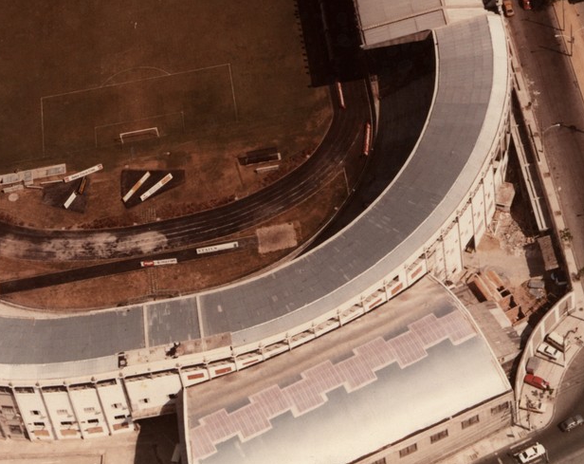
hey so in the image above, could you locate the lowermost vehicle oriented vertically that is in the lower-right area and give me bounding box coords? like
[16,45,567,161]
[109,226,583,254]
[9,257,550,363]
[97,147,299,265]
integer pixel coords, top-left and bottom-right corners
[527,347,541,372]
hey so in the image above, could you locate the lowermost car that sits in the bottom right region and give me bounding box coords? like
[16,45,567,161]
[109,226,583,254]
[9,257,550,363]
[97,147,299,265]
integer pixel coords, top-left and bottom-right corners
[518,442,545,463]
